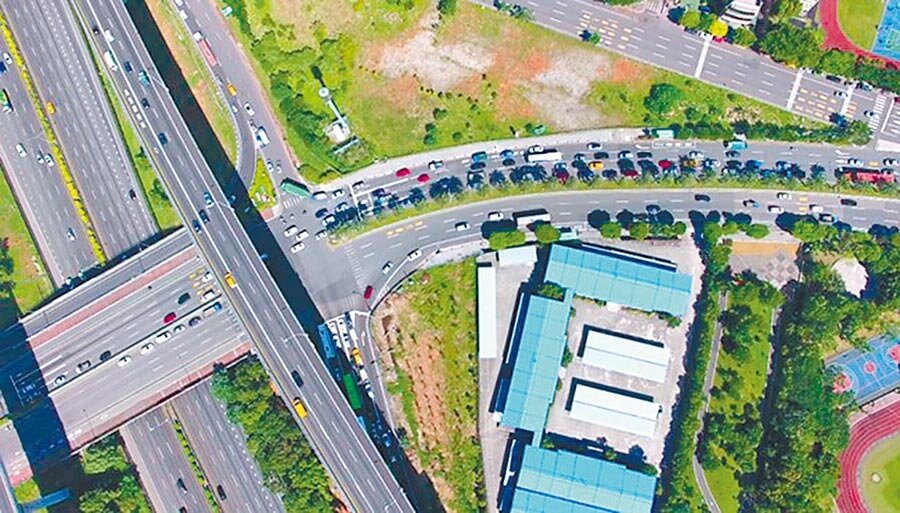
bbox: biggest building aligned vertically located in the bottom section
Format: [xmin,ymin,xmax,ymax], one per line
[493,295,571,430]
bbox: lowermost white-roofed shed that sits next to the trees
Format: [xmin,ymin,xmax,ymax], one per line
[570,382,662,437]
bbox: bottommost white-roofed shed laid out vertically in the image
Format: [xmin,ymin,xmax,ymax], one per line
[478,266,497,358]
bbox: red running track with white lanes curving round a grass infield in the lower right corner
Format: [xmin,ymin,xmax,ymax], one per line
[835,390,900,513]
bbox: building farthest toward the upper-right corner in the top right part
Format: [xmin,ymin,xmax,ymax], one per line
[713,0,765,33]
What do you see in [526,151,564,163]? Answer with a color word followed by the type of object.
white vehicle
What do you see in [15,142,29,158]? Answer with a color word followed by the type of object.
white vehicle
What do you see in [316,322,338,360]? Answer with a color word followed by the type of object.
blue bus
